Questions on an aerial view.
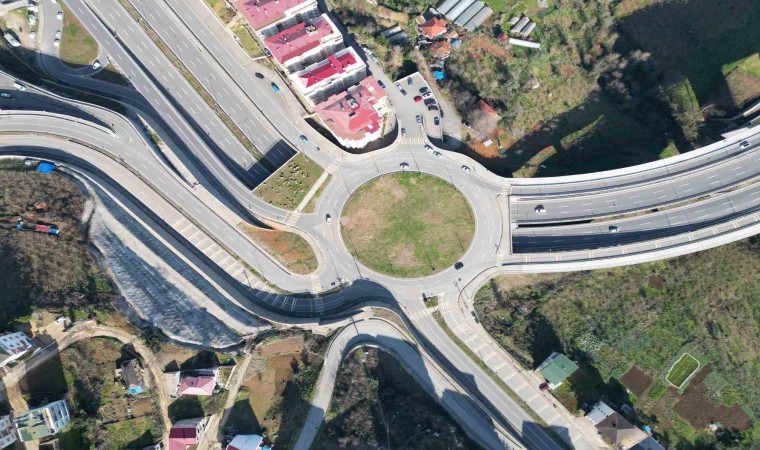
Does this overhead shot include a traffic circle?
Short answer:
Yes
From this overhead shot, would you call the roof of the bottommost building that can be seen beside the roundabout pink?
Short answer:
Yes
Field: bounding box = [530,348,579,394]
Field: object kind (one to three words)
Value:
house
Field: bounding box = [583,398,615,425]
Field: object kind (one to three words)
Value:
shed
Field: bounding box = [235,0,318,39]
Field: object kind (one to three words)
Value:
building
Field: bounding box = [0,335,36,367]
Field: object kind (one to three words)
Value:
house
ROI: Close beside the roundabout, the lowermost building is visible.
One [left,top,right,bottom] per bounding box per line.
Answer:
[315,76,393,148]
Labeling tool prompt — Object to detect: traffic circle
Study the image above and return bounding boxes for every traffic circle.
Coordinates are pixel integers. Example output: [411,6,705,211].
[283,137,506,321]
